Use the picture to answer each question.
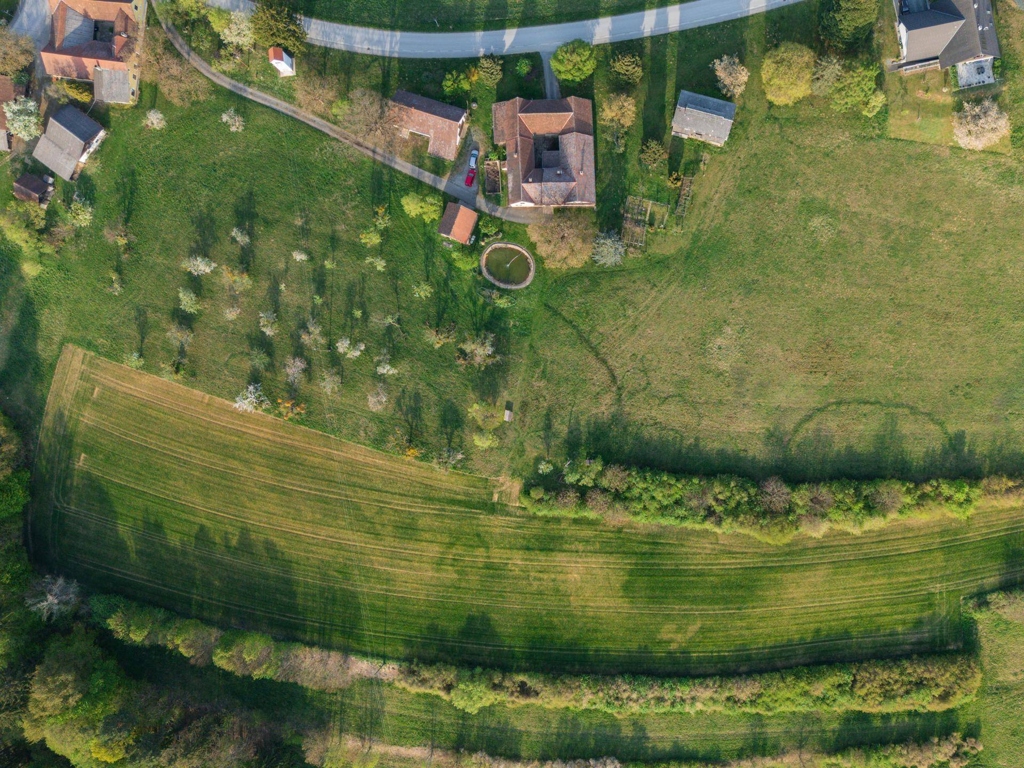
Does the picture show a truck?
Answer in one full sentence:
No, I can see no truck in this picture.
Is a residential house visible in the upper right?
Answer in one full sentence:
Yes, in the upper right there is a residential house.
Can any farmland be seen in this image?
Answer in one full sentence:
Yes, some farmland is visible.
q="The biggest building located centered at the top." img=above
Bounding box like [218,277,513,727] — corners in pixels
[492,96,595,208]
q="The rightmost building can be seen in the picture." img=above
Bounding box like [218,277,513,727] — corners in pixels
[887,0,1000,72]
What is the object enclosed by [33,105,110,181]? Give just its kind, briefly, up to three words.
barn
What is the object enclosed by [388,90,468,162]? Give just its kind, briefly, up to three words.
barn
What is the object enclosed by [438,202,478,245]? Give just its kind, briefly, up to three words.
building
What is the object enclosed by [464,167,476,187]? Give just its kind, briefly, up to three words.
vehicle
